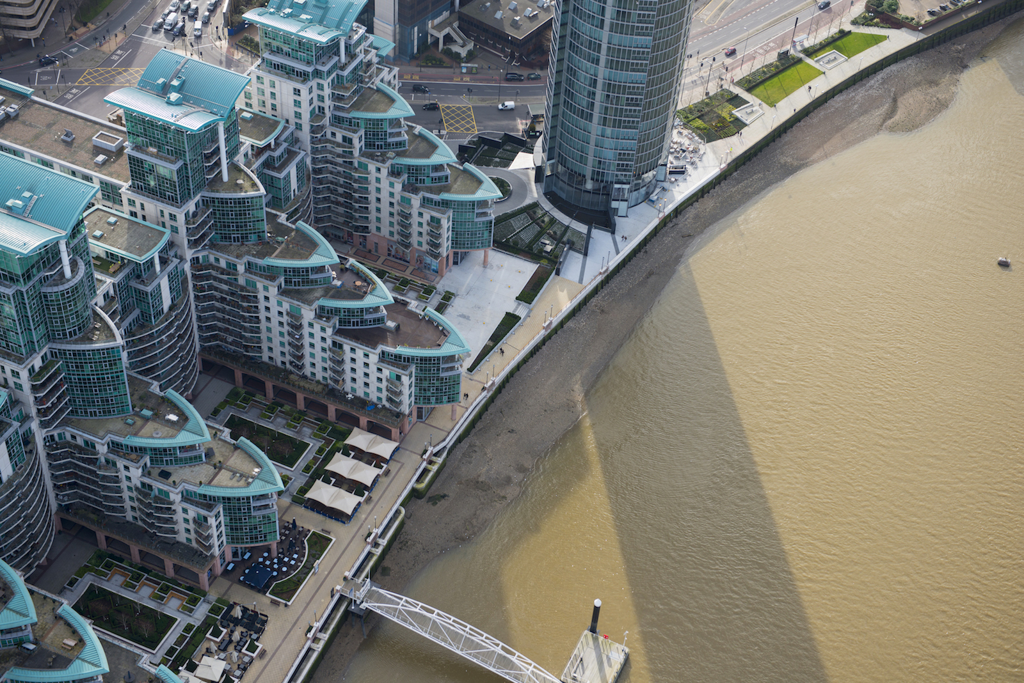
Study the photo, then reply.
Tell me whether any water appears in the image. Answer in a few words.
Yes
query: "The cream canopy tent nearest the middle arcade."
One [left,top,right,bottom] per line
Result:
[344,428,400,468]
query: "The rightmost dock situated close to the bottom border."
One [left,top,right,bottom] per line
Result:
[558,625,632,683]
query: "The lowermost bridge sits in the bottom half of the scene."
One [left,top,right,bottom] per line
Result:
[362,583,567,683]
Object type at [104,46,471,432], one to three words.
building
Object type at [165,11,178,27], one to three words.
vehicle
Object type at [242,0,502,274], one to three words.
building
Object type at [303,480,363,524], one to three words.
tent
